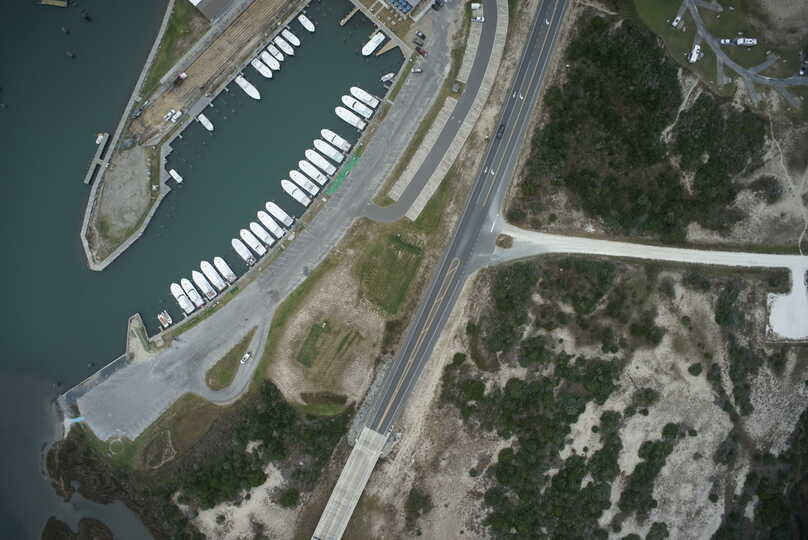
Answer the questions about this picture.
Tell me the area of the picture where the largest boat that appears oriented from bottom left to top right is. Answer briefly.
top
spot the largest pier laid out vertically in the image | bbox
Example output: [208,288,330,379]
[160,129,184,201]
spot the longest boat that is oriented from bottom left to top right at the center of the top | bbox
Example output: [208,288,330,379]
[363,32,386,54]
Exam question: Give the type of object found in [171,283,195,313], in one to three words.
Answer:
boat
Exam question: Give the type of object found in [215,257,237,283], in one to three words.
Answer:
boat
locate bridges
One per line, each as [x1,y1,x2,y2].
[311,421,390,540]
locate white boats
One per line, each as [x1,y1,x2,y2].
[267,202,292,228]
[251,58,271,78]
[351,86,379,110]
[260,50,279,69]
[274,35,294,54]
[168,168,184,184]
[259,212,283,239]
[282,180,311,208]
[241,230,266,257]
[202,261,226,291]
[335,106,366,132]
[297,13,315,31]
[306,149,335,177]
[181,279,204,307]
[321,128,352,152]
[197,114,214,131]
[290,171,318,197]
[315,138,344,163]
[233,239,255,265]
[193,271,215,300]
[299,159,327,187]
[267,44,283,61]
[282,28,300,46]
[251,223,274,247]
[342,95,372,120]
[363,32,386,54]
[171,283,195,313]
[235,74,260,99]
[215,257,237,283]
